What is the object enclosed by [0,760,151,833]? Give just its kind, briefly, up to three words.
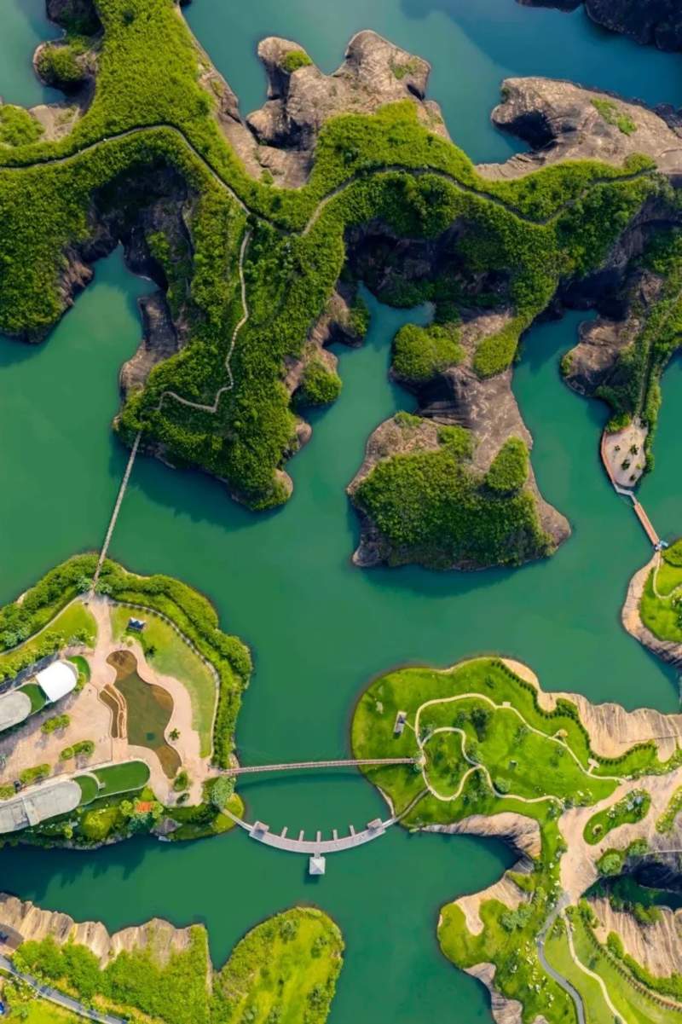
building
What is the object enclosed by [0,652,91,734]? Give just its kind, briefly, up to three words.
building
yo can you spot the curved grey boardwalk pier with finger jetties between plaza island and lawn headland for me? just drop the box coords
[222,808,398,857]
